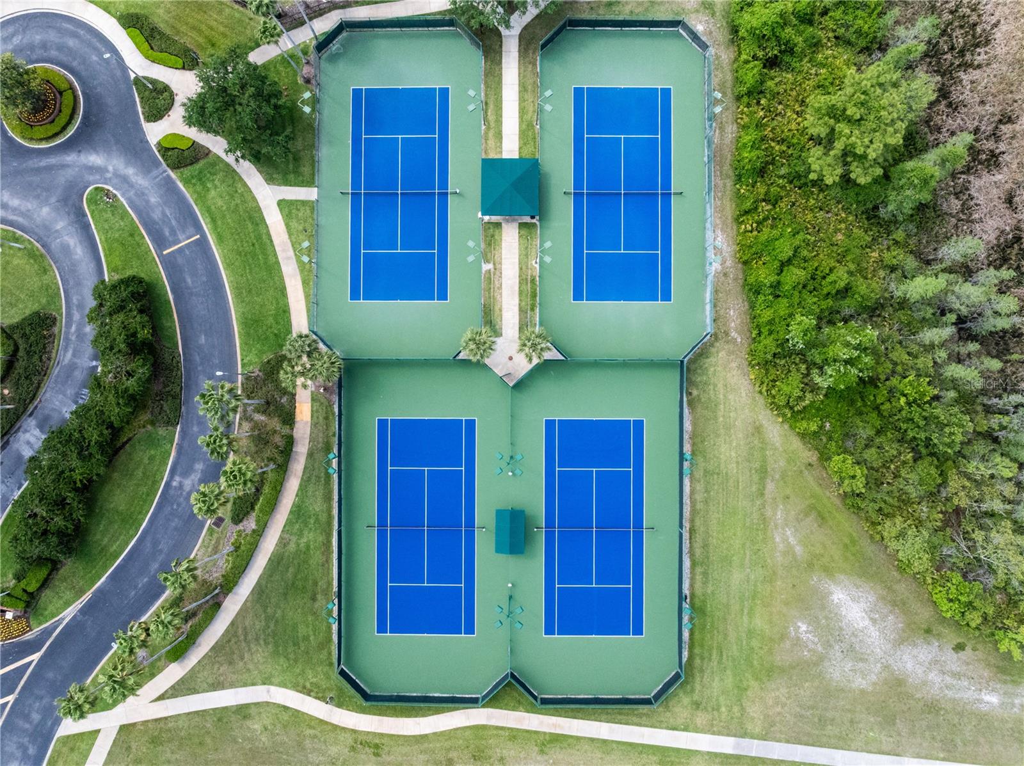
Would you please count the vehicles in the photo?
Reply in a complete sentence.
There are no vehicles in the image.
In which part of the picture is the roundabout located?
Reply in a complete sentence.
You can find the roundabout in the top left area of the picture.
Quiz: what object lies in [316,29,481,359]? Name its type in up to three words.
tennis court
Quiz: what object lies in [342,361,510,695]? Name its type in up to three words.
tennis court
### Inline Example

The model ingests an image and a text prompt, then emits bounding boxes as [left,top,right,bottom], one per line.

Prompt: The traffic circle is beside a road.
[0,63,82,148]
